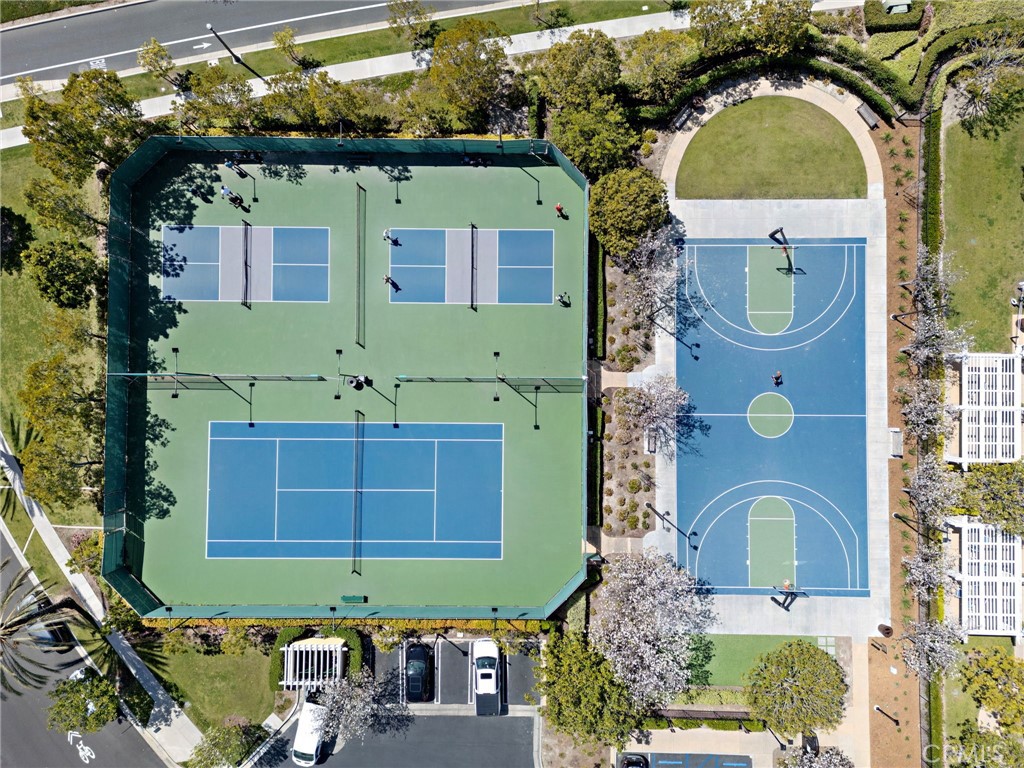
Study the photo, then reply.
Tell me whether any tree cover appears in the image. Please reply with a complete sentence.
Yes, tree cover can be seen from above here.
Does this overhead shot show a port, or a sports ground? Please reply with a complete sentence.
The area seen from above is a sports ground.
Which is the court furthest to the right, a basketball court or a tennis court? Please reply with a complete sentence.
In the photo, the court furthest to the right shows up as a basketball court.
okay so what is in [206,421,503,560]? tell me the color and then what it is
blue tennis court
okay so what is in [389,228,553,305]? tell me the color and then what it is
blue sports court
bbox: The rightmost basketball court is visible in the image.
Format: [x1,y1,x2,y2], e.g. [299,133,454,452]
[676,238,870,597]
